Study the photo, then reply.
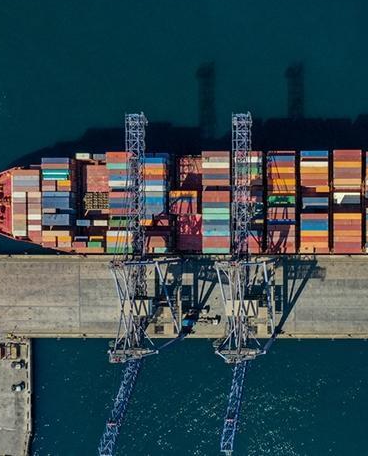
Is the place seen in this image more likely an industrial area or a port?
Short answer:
port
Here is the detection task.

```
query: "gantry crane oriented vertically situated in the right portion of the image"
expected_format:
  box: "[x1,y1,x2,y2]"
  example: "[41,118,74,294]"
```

[215,112,284,456]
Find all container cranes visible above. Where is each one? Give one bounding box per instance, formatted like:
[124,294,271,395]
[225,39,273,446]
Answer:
[90,112,193,456]
[215,112,284,456]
